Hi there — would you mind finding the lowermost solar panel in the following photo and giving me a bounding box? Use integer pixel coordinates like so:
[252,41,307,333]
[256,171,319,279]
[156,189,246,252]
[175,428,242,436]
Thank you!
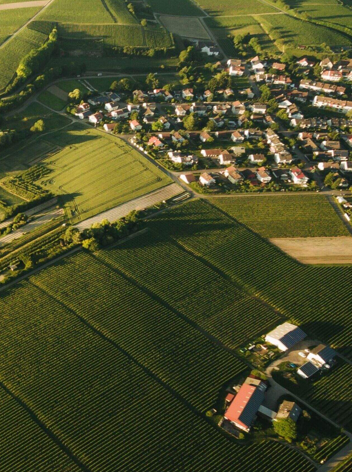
[240,388,263,427]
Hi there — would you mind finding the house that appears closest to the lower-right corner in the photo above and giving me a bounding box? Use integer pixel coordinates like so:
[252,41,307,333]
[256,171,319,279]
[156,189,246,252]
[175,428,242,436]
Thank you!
[274,401,303,424]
